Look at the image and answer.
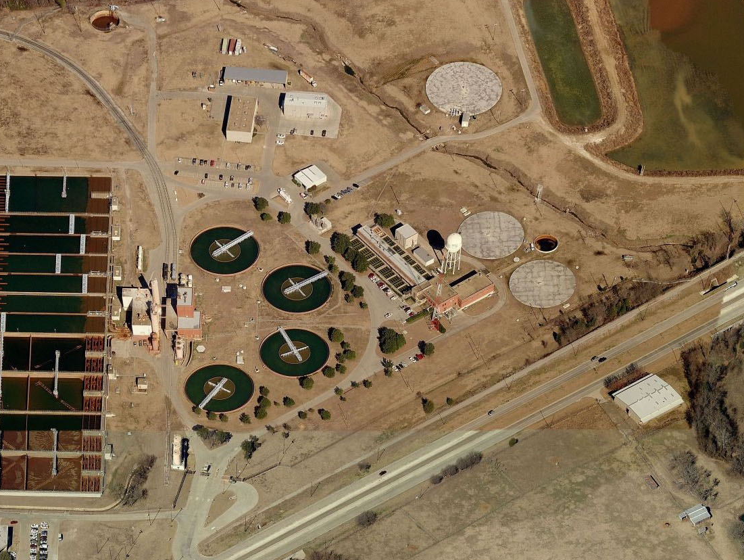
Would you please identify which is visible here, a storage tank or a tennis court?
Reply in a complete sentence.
Visible in the photo is a storage tank.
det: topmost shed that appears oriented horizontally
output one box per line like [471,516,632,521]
[223,68,288,89]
